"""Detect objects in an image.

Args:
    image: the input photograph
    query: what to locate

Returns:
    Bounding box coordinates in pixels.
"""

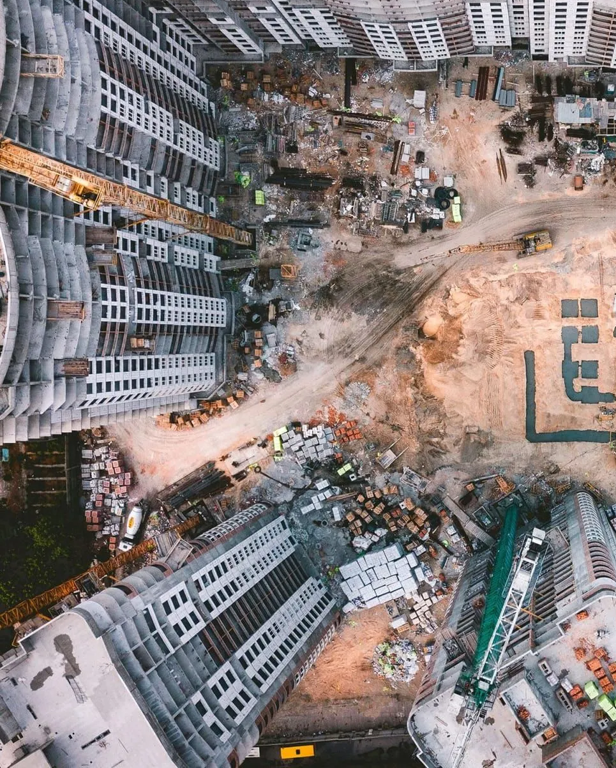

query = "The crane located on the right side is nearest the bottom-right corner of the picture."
[439,488,557,768]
